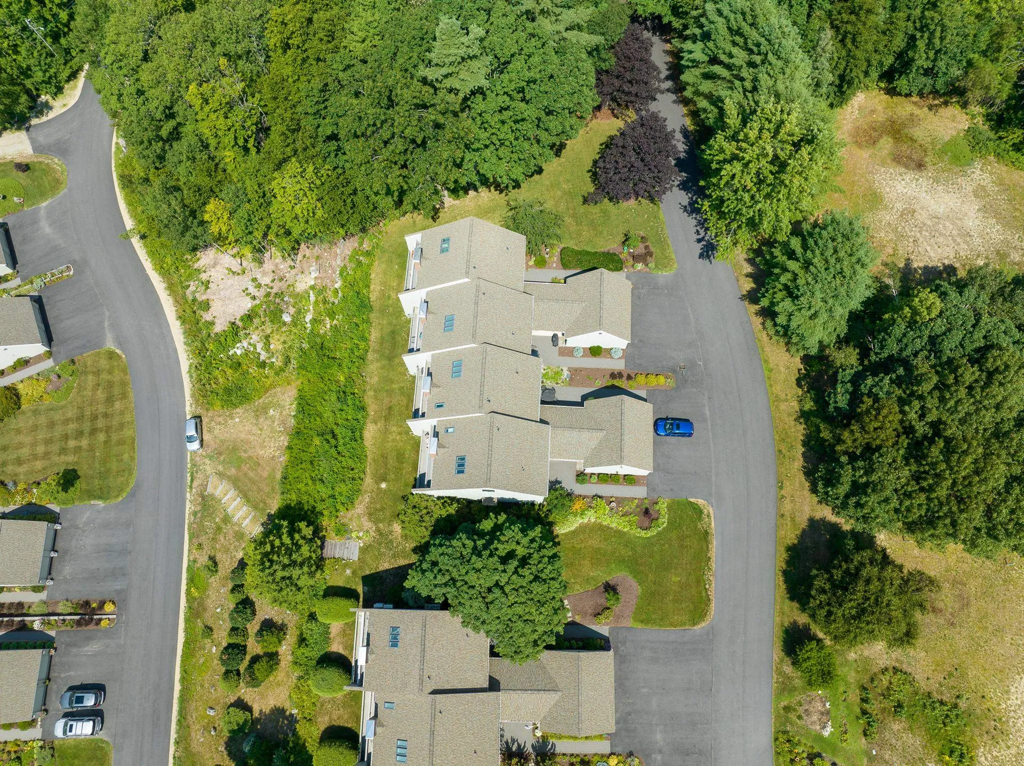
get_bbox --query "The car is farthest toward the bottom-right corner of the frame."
[655,418,694,439]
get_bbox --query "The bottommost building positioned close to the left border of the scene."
[0,650,52,724]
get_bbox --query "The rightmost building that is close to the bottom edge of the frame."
[489,649,618,737]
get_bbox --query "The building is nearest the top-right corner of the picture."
[525,268,632,345]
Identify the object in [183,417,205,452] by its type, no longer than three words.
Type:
car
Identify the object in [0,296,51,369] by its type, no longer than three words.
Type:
building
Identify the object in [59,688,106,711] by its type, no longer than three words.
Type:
car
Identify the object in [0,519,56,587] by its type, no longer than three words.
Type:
building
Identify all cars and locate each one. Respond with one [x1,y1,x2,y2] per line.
[655,418,694,439]
[59,688,106,711]
[183,417,205,452]
[56,714,106,739]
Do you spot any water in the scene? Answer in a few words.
No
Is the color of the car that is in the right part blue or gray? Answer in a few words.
blue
